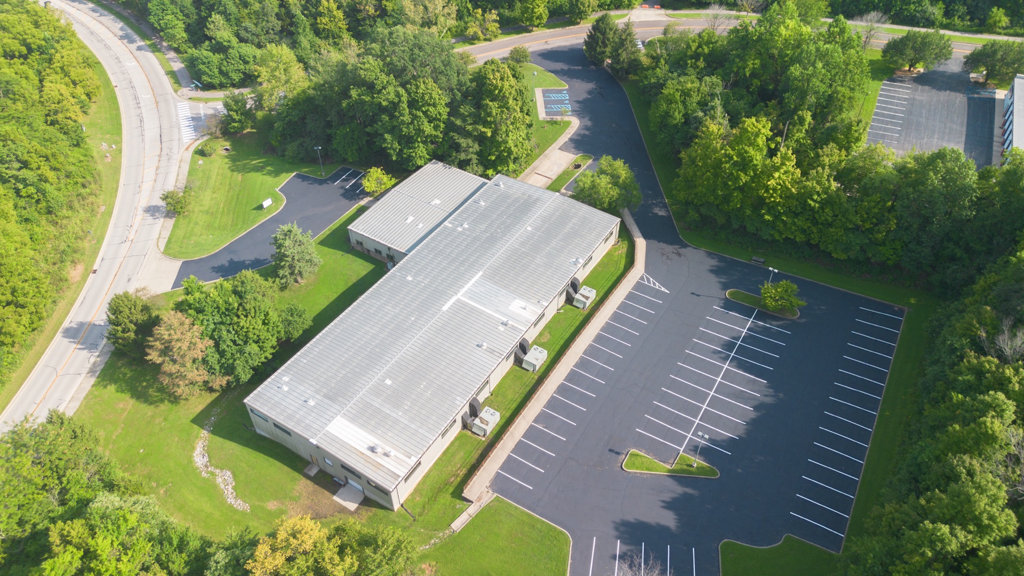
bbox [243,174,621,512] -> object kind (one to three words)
building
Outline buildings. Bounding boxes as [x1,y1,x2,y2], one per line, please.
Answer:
[1000,70,1024,196]
[243,174,621,512]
